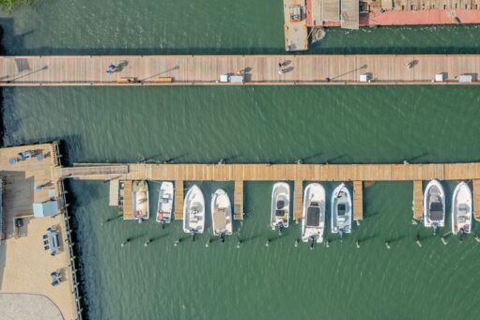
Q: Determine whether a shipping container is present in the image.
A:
No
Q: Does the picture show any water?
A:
Yes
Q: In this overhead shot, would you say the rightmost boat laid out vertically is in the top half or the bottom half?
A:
bottom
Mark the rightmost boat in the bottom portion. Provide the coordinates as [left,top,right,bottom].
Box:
[451,181,472,241]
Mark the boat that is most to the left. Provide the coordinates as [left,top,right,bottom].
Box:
[132,181,150,228]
